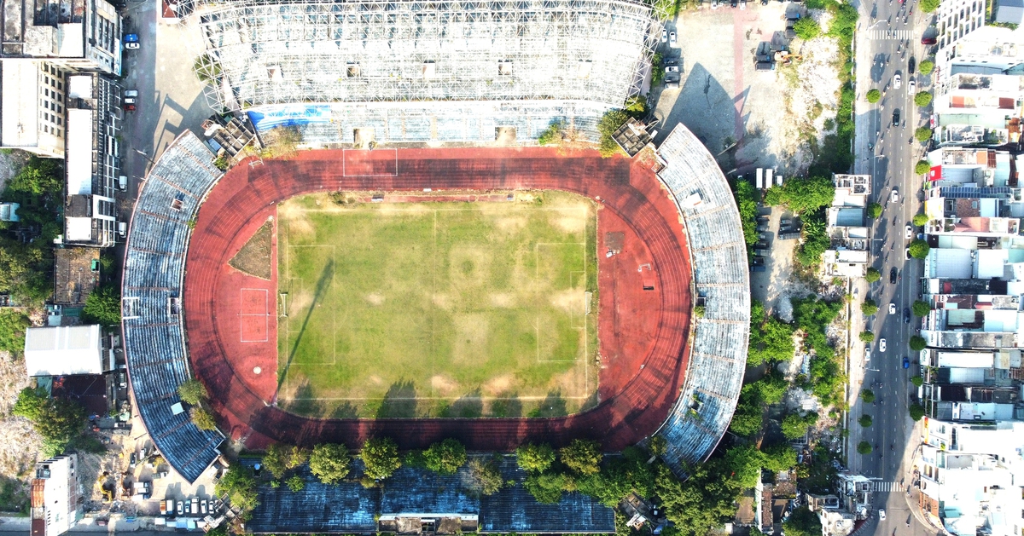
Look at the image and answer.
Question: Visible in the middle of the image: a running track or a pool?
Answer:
running track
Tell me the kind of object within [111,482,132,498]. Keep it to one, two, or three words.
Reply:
work vehicle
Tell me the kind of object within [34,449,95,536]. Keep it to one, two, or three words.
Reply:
building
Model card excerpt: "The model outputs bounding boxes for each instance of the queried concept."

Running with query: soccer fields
[277,192,599,420]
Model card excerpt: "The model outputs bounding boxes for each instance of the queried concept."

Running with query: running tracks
[184,147,692,452]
